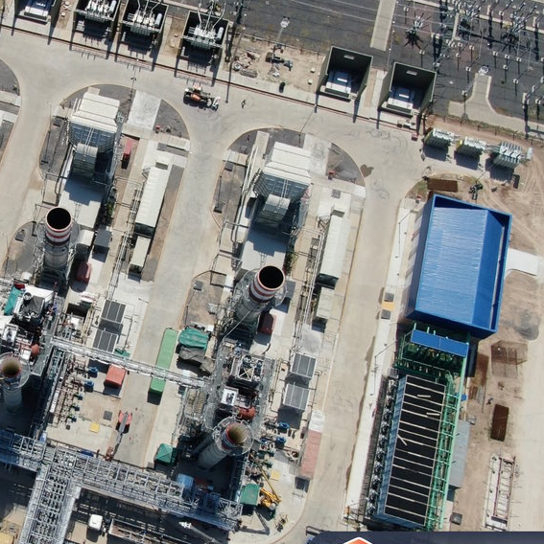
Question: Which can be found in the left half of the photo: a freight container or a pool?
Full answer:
Visible in the left half of the photo is a freight container.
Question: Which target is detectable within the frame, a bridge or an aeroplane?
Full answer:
I can see a bridge in this picture.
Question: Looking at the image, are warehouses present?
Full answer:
Yes, there is a warehouse in the image.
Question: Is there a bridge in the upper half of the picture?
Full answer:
No, in the upper half of the picture there is no bridge.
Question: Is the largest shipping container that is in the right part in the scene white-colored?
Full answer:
Yes, the largest shipping container that is in the right part is indeed white.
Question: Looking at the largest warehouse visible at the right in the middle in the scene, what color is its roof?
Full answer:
The roof of the largest warehouse visible at the right in the middle is blue.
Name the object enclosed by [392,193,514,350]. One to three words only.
warehouse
